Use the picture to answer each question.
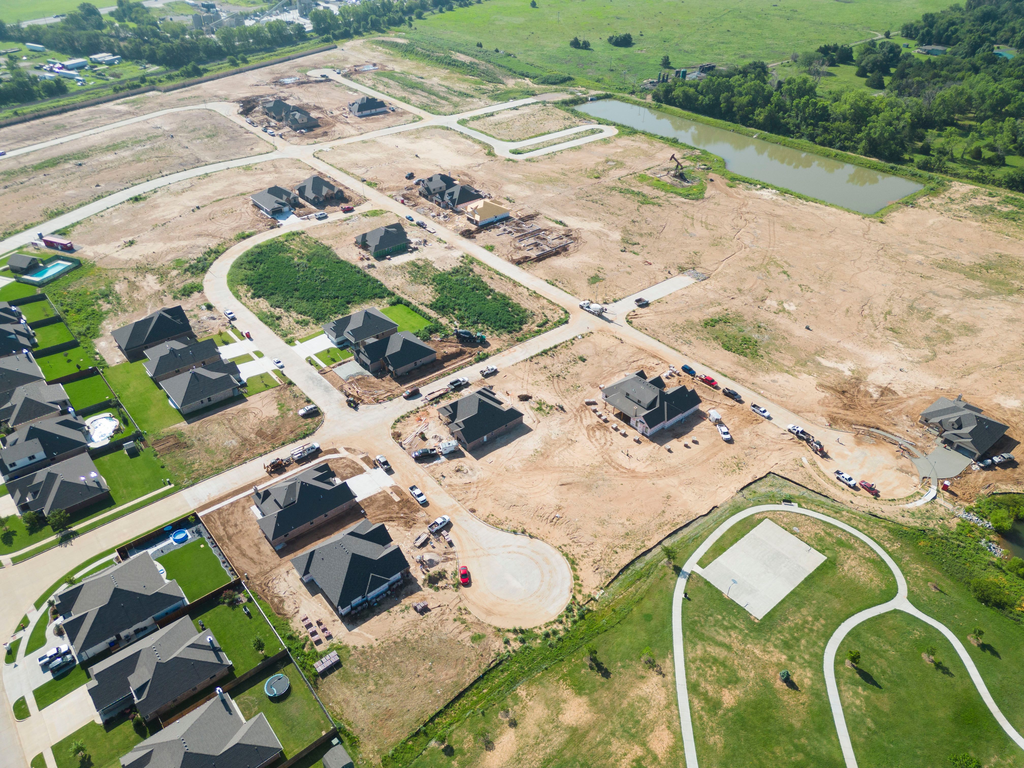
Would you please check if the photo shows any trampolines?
Yes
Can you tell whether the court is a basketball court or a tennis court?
basketball court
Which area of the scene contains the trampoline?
bottom left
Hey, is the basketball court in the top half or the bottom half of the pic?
bottom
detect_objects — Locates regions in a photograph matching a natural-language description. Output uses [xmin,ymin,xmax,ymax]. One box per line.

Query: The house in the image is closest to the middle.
[433,386,525,451]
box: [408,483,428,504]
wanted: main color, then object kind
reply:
white vehicle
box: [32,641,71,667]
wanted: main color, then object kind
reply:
white truck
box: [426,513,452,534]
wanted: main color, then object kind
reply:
white truck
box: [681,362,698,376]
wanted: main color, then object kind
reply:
blue car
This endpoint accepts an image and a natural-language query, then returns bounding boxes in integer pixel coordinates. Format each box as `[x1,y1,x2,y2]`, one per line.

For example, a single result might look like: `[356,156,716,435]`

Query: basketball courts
[693,519,827,620]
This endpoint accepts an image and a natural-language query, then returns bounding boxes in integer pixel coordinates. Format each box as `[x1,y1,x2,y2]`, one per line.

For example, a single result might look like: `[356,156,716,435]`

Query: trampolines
[262,672,290,698]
